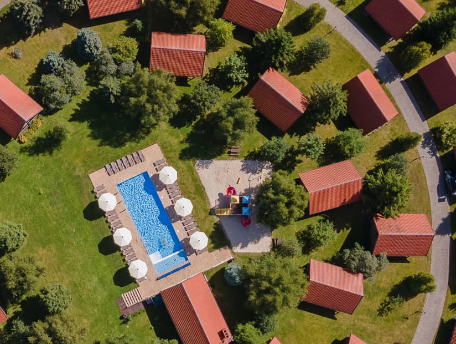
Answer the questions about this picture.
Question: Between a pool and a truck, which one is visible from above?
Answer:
pool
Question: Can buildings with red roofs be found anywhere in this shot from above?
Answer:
Yes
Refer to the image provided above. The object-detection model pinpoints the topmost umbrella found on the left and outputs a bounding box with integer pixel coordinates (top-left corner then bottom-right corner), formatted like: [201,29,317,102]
[159,165,178,185]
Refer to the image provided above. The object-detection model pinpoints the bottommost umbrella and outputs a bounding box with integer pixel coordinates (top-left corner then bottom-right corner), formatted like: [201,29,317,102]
[129,260,147,279]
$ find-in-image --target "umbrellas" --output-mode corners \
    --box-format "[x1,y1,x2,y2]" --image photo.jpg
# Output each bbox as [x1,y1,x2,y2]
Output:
[189,231,208,250]
[129,260,147,279]
[175,197,192,216]
[113,228,132,246]
[159,165,178,185]
[98,192,116,211]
